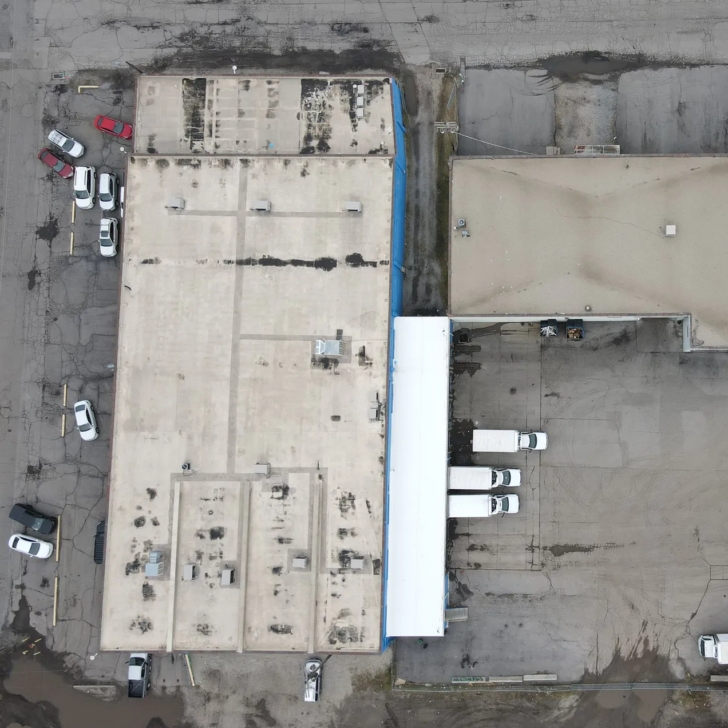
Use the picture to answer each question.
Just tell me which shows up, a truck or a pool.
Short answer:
truck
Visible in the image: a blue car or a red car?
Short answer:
red car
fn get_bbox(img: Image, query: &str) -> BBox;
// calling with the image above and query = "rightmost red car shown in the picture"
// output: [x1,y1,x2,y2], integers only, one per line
[93,114,134,141]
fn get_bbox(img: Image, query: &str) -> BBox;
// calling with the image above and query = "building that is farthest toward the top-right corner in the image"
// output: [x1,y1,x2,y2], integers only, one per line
[449,155,728,353]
